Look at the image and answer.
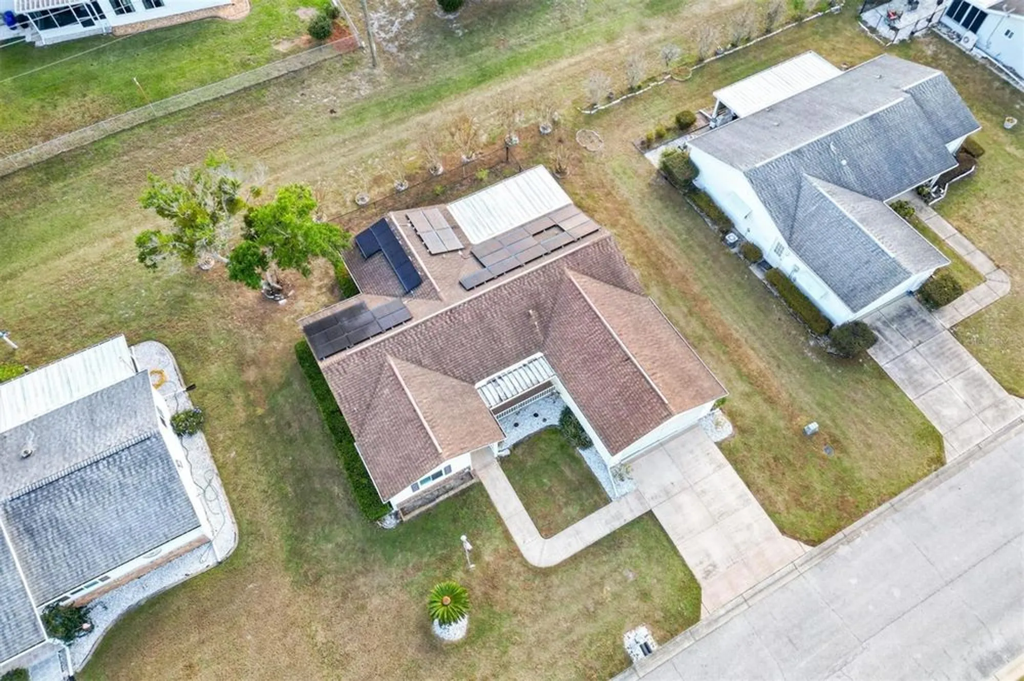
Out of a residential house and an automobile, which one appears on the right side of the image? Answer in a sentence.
The one visible on the right side of the image is a residential house.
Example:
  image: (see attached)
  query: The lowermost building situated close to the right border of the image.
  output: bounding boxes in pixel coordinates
[689,51,983,324]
